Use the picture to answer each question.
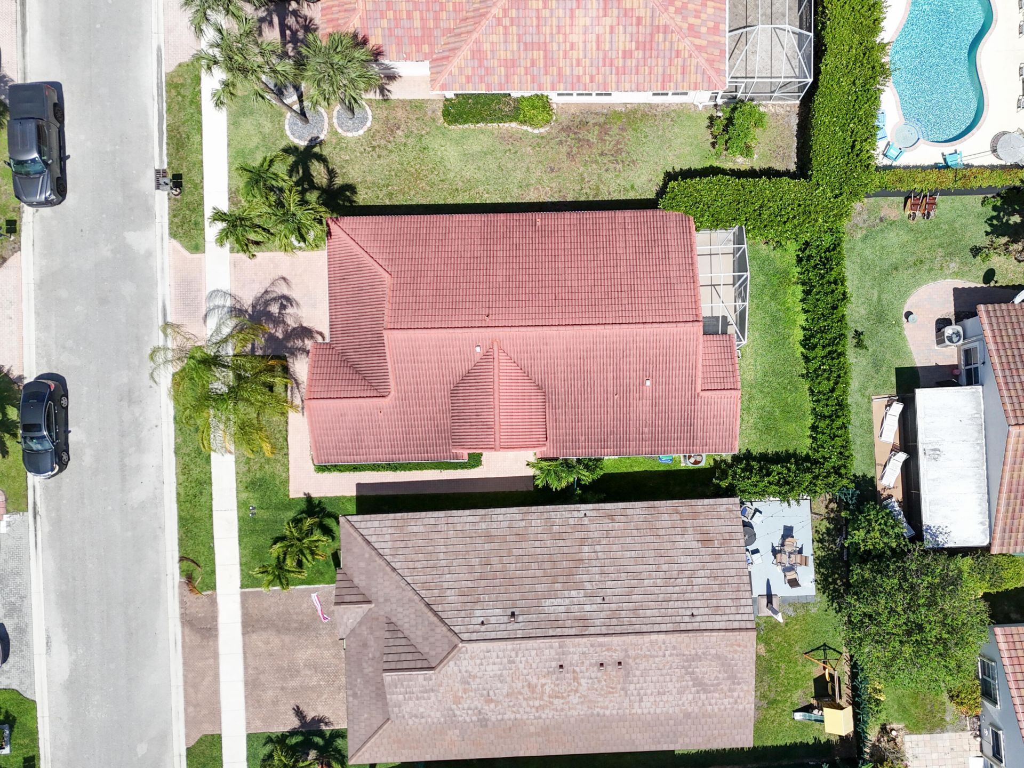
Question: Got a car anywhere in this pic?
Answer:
Yes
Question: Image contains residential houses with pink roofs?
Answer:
Yes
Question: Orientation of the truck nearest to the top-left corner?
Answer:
vertically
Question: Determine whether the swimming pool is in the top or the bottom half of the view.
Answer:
top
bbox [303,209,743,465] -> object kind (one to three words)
house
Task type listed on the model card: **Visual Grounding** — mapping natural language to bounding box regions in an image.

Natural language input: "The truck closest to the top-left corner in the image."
[4,84,67,208]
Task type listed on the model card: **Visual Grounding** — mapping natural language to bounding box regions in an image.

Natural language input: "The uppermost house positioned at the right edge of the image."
[873,304,1024,555]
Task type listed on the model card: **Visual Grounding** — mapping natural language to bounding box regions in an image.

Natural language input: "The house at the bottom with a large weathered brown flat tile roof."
[333,498,757,765]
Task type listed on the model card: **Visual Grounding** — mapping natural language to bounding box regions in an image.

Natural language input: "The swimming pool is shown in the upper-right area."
[885,0,1000,152]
